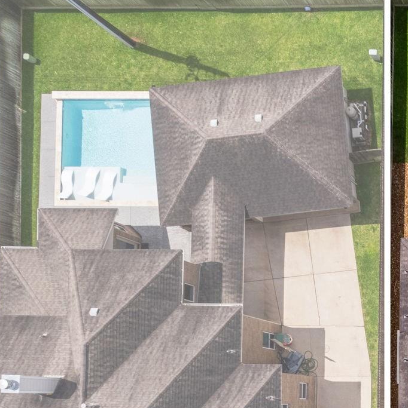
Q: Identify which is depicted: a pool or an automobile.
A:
pool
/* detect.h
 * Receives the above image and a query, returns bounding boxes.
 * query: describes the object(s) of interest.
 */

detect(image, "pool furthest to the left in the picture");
[53,92,159,207]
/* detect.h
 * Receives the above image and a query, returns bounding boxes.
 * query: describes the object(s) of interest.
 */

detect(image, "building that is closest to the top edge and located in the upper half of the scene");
[148,65,370,236]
